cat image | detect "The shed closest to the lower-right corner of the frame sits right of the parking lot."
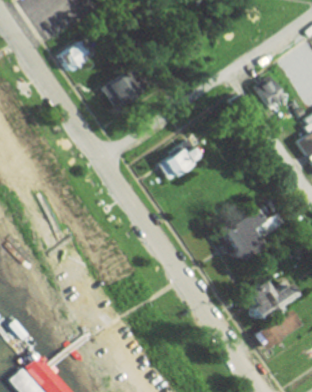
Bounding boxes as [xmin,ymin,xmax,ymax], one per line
[261,312,300,346]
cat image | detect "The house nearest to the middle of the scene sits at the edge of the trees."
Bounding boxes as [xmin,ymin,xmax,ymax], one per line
[159,144,204,180]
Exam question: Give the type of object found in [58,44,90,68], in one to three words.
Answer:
house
